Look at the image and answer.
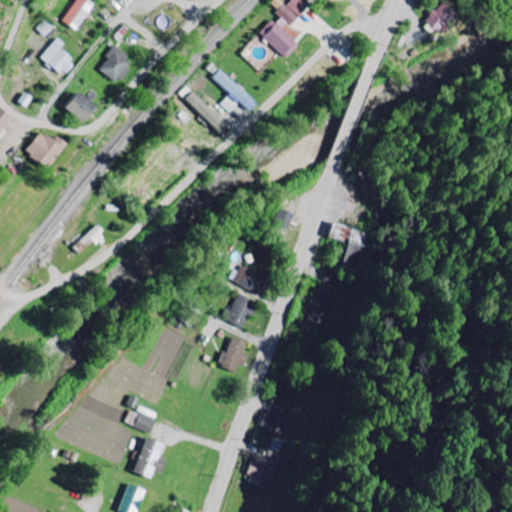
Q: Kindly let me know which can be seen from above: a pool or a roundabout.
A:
pool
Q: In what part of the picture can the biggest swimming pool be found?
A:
top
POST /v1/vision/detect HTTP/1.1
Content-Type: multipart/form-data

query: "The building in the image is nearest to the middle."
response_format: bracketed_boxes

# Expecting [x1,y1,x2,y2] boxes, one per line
[229,265,256,291]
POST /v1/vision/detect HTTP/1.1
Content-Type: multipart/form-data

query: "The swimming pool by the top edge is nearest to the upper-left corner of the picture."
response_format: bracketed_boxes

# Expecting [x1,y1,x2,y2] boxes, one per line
[154,14,170,30]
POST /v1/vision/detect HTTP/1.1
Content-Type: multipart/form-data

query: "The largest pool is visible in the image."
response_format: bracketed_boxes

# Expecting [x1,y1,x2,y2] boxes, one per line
[241,38,274,72]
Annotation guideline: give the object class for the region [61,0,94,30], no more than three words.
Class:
barn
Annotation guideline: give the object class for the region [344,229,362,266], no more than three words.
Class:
building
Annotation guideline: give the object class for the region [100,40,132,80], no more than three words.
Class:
house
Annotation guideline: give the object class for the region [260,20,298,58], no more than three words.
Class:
house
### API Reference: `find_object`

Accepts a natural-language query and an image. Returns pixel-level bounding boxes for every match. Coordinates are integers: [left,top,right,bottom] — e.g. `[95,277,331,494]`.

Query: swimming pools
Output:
[230,250,242,263]
[241,38,274,72]
[154,14,170,30]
